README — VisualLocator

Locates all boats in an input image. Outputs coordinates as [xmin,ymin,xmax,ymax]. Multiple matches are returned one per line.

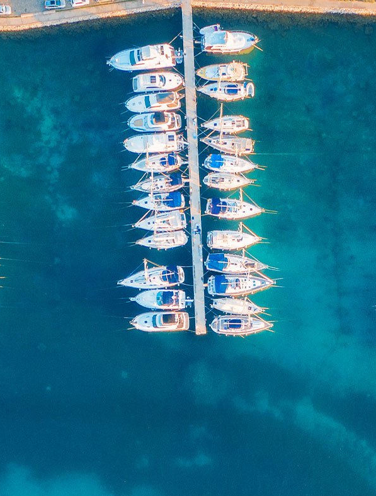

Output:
[192,27,263,53]
[121,206,195,232]
[118,260,195,290]
[197,68,254,100]
[123,184,195,212]
[199,104,258,134]
[197,65,246,82]
[136,224,199,250]
[198,265,283,295]
[203,293,276,316]
[194,144,260,173]
[121,141,190,173]
[120,308,199,332]
[119,165,193,193]
[206,309,277,335]
[197,222,273,250]
[200,120,264,157]
[124,110,192,132]
[112,131,193,154]
[127,287,196,311]
[125,72,186,94]
[97,41,187,73]
[195,247,273,274]
[115,91,184,114]
[195,189,272,221]
[193,163,259,191]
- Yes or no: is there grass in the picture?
No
